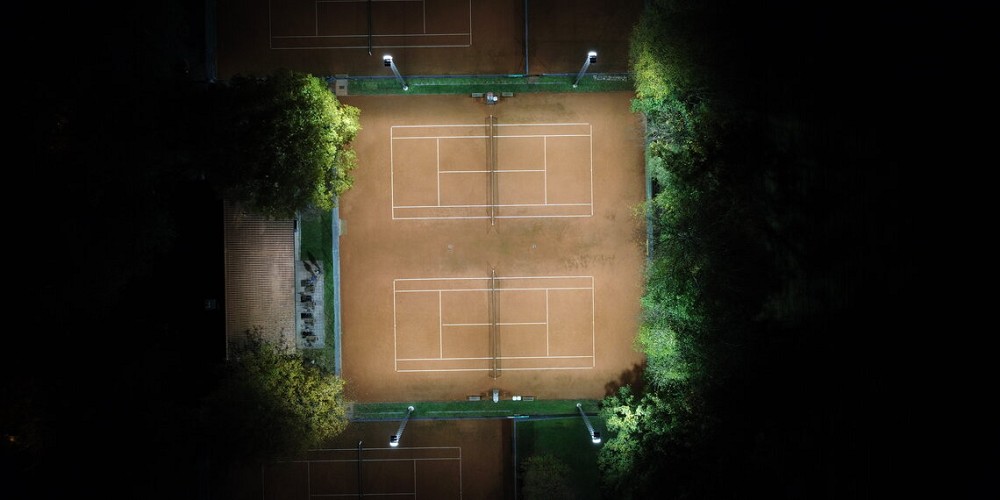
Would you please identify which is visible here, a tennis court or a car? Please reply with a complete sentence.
Of the two, only a tennis court appears.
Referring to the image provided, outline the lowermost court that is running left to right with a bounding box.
[234,420,515,500]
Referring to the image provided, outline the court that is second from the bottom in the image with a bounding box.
[342,245,647,404]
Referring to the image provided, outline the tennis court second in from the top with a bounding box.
[339,91,646,249]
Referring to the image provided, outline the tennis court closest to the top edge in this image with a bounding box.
[222,0,524,78]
